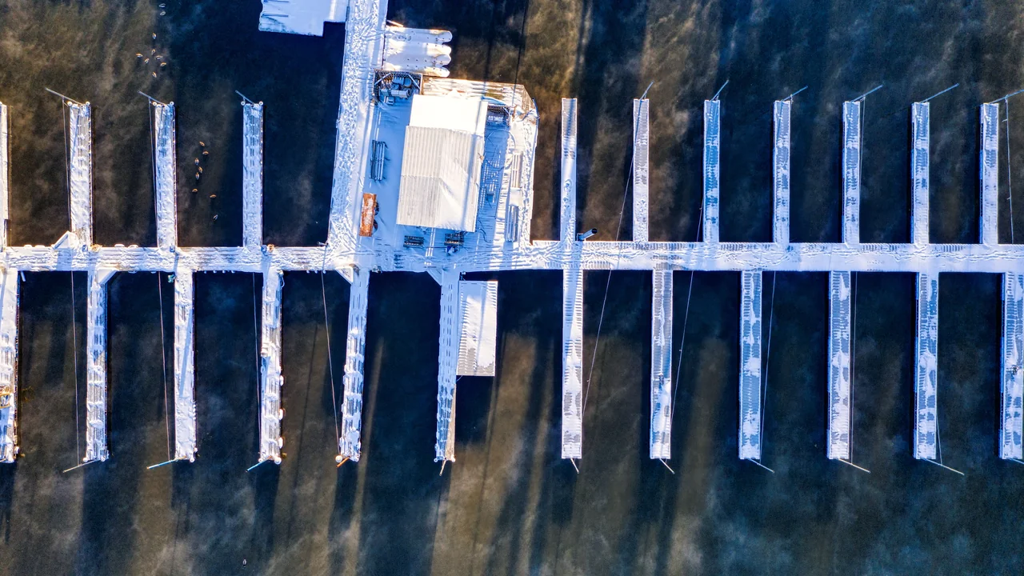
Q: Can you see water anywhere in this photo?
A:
Yes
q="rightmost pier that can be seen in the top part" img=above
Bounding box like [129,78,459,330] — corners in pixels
[976,103,999,244]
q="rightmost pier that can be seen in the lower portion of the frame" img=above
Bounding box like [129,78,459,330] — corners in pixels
[996,273,1024,459]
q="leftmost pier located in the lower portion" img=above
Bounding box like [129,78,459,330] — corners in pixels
[0,271,22,463]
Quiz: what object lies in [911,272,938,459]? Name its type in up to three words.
pier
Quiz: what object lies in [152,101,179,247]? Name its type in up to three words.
pier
